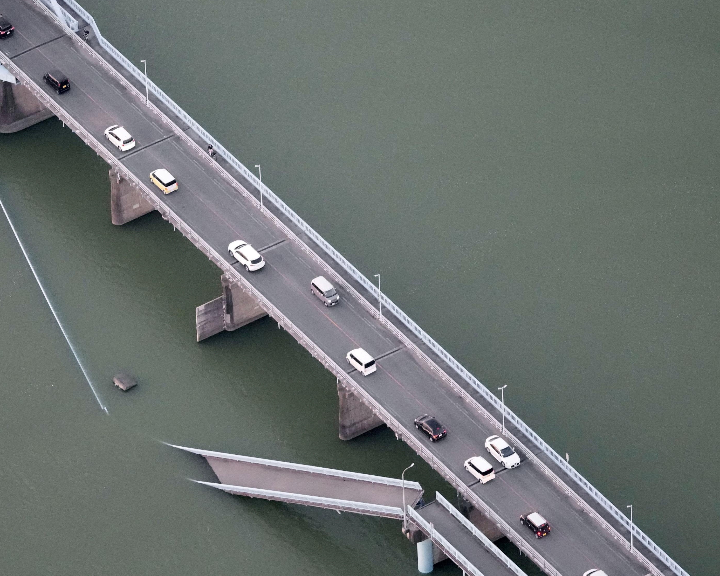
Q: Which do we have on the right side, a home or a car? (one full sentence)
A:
You can see a car on the right side.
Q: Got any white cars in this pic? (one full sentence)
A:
Yes, there is a white car in the image.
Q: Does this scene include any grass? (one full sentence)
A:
No, no grass is visible.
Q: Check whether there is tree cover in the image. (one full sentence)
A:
No, there is no tree cover in the image.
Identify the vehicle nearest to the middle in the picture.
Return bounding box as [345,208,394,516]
[310,274,340,308]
